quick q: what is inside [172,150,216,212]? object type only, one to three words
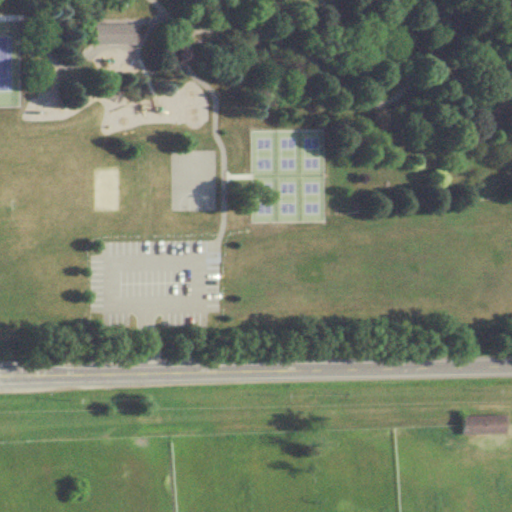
basketball court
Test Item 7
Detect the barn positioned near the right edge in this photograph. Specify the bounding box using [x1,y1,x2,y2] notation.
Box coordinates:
[466,415,508,435]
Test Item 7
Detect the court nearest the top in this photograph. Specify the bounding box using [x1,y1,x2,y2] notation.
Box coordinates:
[0,26,22,108]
